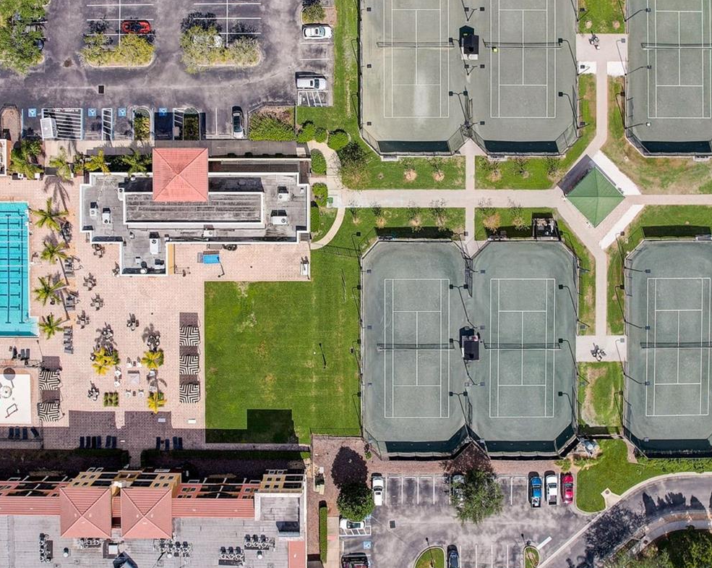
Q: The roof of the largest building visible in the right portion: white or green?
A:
green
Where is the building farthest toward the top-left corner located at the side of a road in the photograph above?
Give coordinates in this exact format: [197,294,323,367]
[79,147,311,276]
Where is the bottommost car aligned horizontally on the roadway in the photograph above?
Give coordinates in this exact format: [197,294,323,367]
[341,554,370,568]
